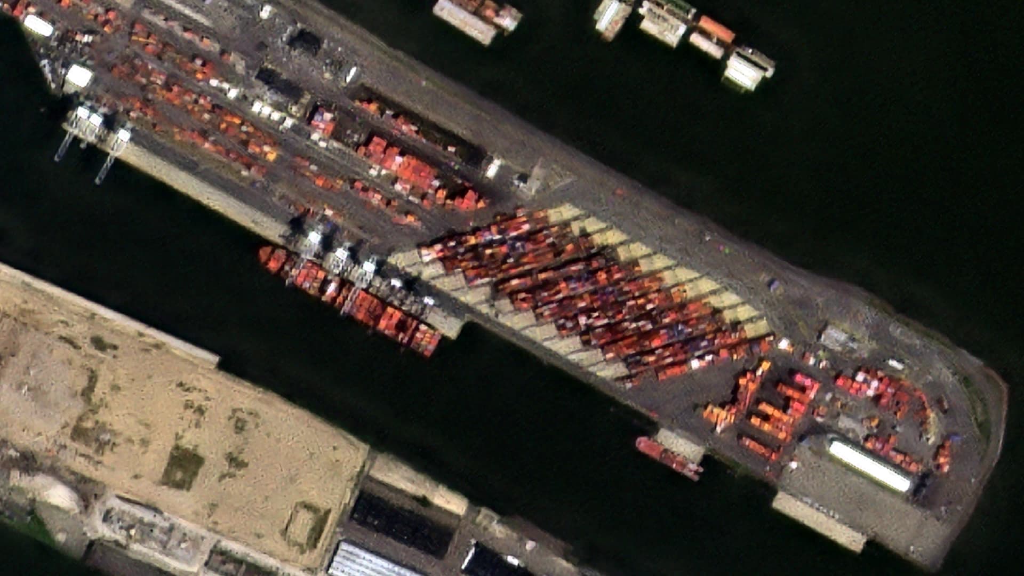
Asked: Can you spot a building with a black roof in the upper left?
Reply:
Yes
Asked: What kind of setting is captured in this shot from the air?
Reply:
port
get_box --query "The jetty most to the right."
[772,489,868,553]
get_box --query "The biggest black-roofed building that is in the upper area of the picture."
[255,63,303,99]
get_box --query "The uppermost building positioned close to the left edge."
[23,13,54,37]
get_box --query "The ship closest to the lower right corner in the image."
[635,440,705,482]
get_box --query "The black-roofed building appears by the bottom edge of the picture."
[466,546,529,576]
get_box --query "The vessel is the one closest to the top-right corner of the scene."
[722,45,773,93]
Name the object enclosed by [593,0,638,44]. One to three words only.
vessel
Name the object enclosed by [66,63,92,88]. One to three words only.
building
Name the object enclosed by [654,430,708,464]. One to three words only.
pier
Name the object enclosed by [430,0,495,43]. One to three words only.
ship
